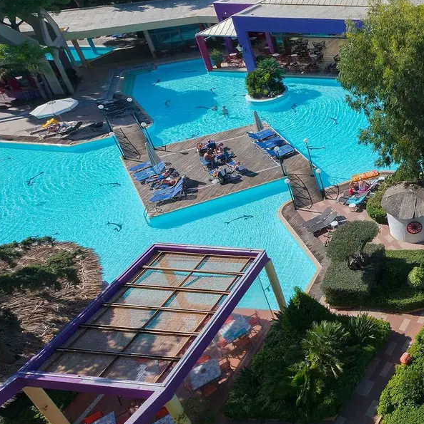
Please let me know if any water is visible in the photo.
Yes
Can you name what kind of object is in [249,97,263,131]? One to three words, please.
umbrella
